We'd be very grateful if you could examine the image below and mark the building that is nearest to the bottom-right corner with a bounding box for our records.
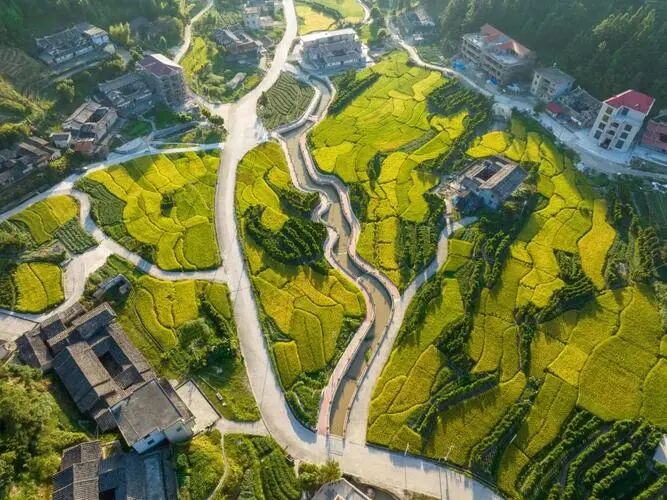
[313,470,370,500]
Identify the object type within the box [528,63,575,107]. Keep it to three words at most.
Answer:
house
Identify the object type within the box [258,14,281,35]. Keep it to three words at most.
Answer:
shed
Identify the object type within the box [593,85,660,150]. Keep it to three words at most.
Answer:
building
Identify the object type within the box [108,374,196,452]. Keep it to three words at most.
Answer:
house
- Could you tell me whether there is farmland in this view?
Yes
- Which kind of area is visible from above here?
residential area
